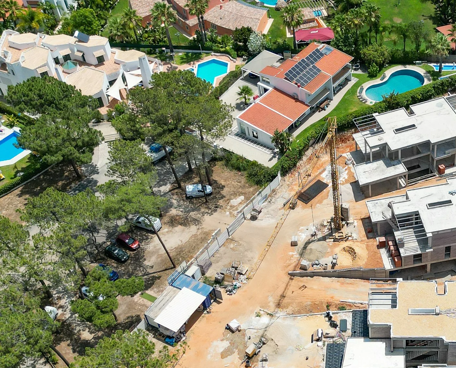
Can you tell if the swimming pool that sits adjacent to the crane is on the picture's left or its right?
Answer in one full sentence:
The swimming pool that sits adjacent to the crane appears in the right half of the scene.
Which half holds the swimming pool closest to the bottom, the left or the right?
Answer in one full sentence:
The swimming pool closest to the bottom is on the left side of the image.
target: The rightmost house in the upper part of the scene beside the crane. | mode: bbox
[348,95,456,199]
